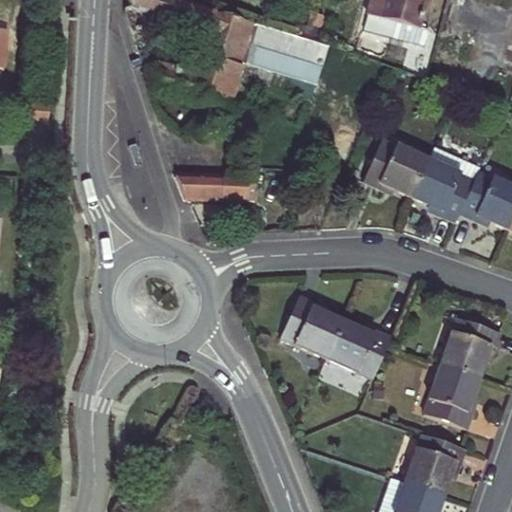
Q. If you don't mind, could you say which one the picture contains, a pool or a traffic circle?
traffic circle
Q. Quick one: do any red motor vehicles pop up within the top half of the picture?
No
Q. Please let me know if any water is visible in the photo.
No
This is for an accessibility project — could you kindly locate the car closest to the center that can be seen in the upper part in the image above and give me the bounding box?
[266,177,278,196]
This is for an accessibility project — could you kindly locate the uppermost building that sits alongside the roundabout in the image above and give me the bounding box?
[176,176,255,208]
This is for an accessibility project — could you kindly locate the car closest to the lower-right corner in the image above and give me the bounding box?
[483,464,496,485]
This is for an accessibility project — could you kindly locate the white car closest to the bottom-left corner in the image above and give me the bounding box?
[215,370,234,392]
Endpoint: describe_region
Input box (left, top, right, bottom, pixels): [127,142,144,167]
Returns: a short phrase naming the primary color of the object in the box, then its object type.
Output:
gray vehicle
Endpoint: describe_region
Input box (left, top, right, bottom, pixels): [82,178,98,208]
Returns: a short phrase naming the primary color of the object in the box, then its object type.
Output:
white vehicle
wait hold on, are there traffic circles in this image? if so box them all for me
[91,238,220,366]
